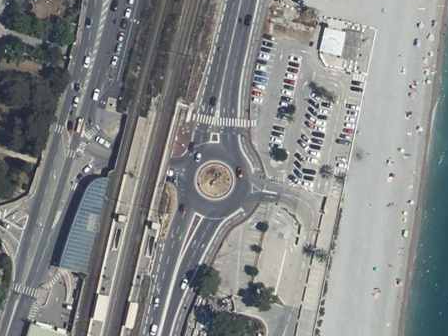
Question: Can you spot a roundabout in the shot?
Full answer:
Yes, there's a roundabout down there.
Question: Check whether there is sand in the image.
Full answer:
Yes, there is sand in the image.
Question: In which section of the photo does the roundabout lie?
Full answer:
Look in the center portion of the view to spot the roundabout.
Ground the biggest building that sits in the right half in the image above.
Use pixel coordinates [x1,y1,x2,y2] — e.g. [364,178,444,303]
[318,18,376,75]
